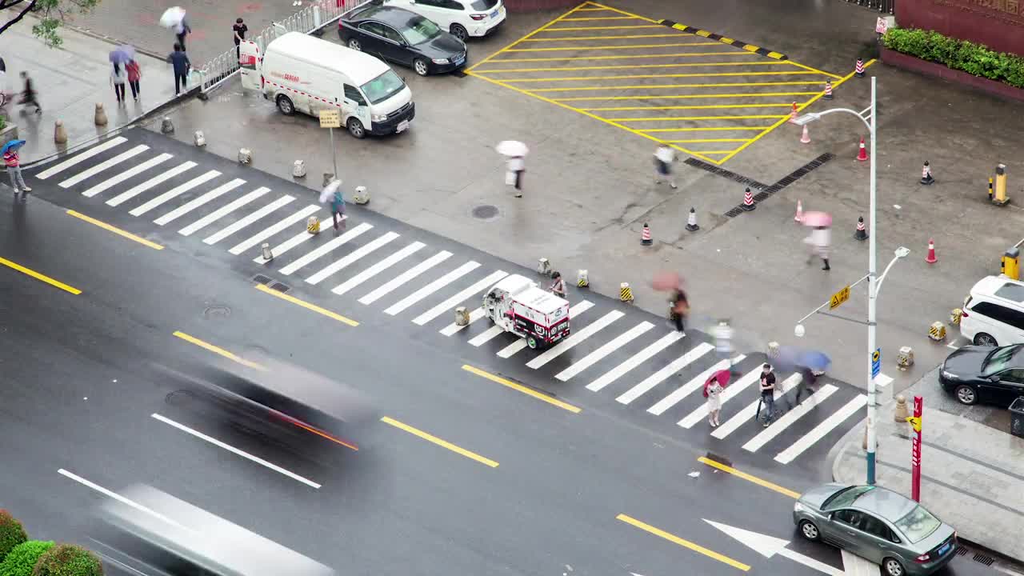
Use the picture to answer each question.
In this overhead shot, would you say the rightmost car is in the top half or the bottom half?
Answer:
bottom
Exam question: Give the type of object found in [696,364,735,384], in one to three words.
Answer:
umbrella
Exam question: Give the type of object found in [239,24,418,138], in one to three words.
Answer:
van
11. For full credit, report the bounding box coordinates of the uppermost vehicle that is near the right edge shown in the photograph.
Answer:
[942,341,1024,413]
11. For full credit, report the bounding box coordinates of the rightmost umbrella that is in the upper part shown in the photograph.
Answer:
[795,211,836,240]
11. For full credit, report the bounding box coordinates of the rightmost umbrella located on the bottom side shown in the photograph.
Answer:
[788,351,832,383]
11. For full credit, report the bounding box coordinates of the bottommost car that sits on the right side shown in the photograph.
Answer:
[786,477,968,576]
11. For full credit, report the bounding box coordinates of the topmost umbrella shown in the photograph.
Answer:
[161,6,189,31]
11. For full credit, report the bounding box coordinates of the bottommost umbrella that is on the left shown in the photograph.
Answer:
[321,180,347,206]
